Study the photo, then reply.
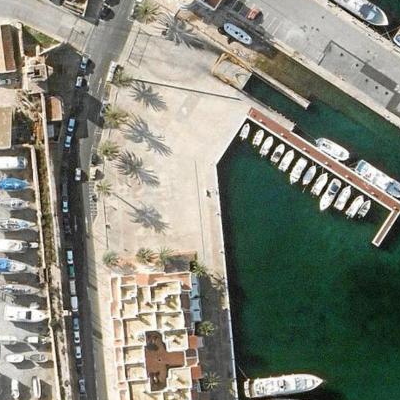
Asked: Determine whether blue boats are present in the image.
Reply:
Yes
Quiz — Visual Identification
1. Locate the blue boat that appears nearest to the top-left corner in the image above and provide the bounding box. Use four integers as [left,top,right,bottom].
[0,175,29,192]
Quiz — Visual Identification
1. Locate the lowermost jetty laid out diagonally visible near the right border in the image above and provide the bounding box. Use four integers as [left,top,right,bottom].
[247,108,400,246]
